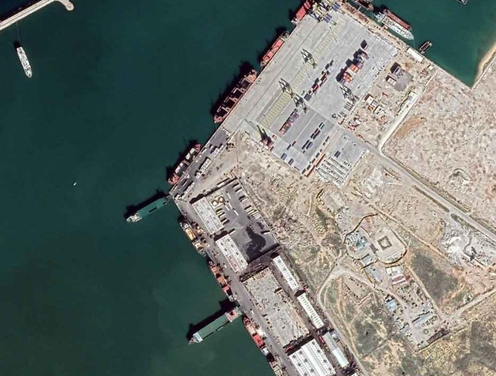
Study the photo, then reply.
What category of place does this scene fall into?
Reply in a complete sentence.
The picture captures a port.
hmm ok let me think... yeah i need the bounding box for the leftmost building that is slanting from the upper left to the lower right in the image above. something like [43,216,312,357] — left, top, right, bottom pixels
[192,195,223,233]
